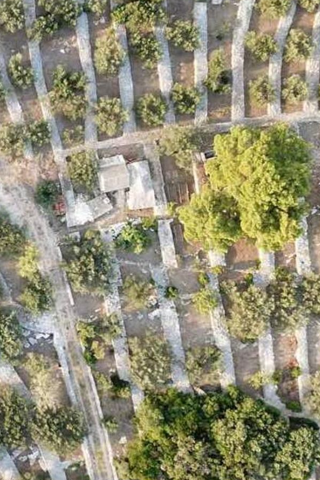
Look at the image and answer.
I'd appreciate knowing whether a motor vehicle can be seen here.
No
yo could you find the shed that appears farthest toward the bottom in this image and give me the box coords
[86,194,112,218]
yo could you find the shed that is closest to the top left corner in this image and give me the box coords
[96,155,129,192]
